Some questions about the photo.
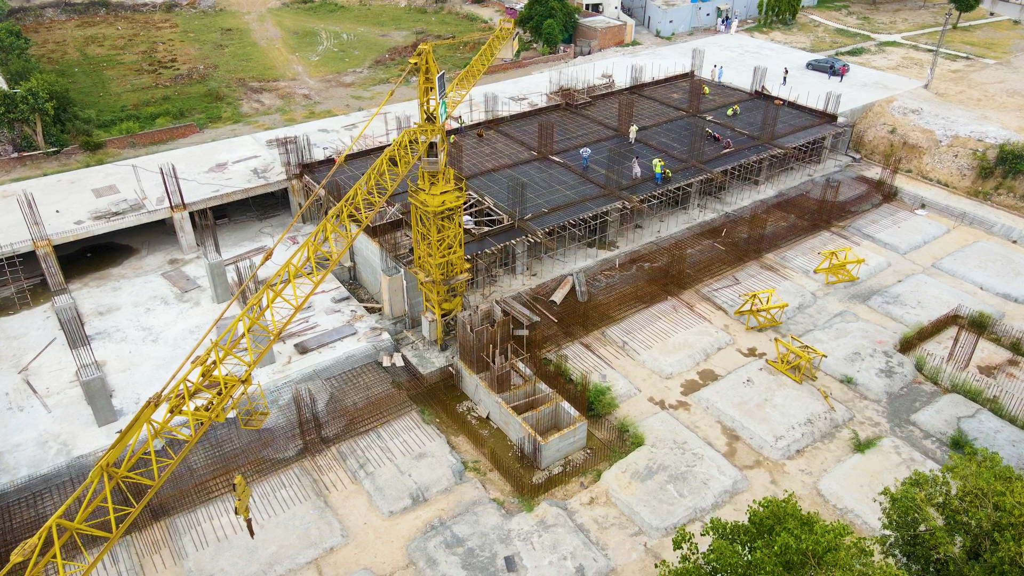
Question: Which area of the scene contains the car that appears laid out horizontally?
top right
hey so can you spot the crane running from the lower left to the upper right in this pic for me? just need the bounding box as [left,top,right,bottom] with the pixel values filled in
[1,4,520,576]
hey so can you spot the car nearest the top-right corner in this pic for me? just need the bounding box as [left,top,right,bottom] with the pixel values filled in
[806,57,852,77]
